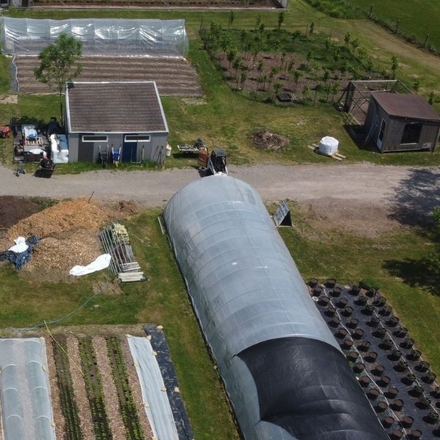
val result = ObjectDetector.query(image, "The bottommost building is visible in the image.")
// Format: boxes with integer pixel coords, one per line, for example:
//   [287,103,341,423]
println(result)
[159,170,344,440]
